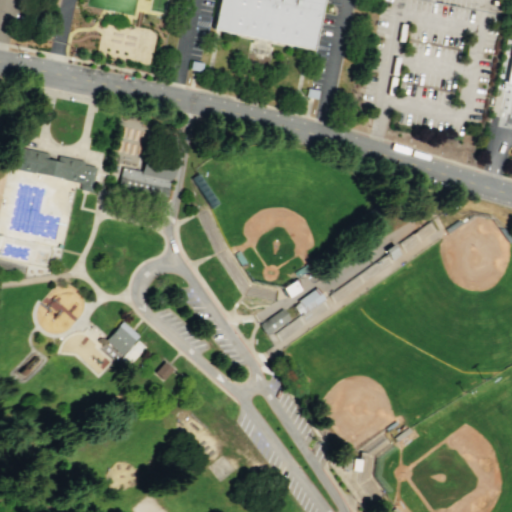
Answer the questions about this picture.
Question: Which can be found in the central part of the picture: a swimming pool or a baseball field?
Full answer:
Visible in the central part of the picture is a baseball field.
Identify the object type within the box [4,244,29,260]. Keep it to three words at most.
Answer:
swimming pool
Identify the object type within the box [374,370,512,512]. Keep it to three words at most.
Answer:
baseball field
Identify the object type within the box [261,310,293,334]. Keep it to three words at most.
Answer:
building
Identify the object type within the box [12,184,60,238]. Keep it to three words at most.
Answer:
swimming pool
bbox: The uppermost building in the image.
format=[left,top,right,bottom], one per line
[214,0,328,51]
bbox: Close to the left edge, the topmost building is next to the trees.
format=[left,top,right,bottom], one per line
[16,148,97,190]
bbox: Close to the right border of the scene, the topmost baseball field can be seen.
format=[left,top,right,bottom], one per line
[311,213,512,372]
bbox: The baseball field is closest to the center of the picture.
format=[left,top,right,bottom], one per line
[196,142,374,291]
